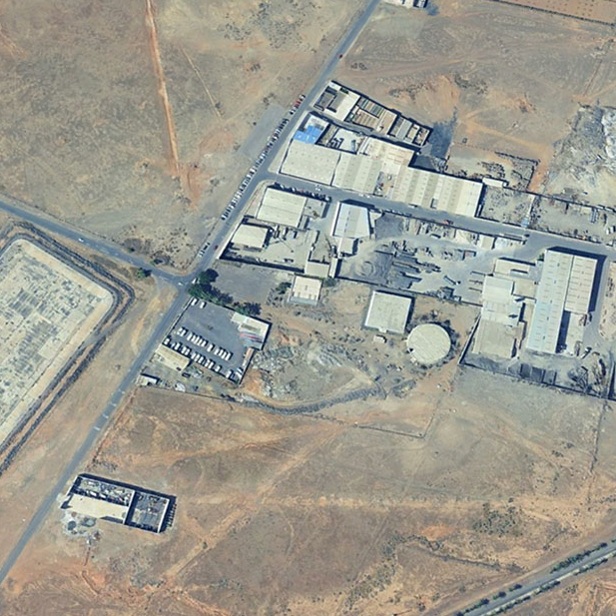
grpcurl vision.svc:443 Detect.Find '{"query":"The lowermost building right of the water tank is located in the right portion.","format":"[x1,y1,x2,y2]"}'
[473,320,517,359]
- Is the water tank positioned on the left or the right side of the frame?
right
